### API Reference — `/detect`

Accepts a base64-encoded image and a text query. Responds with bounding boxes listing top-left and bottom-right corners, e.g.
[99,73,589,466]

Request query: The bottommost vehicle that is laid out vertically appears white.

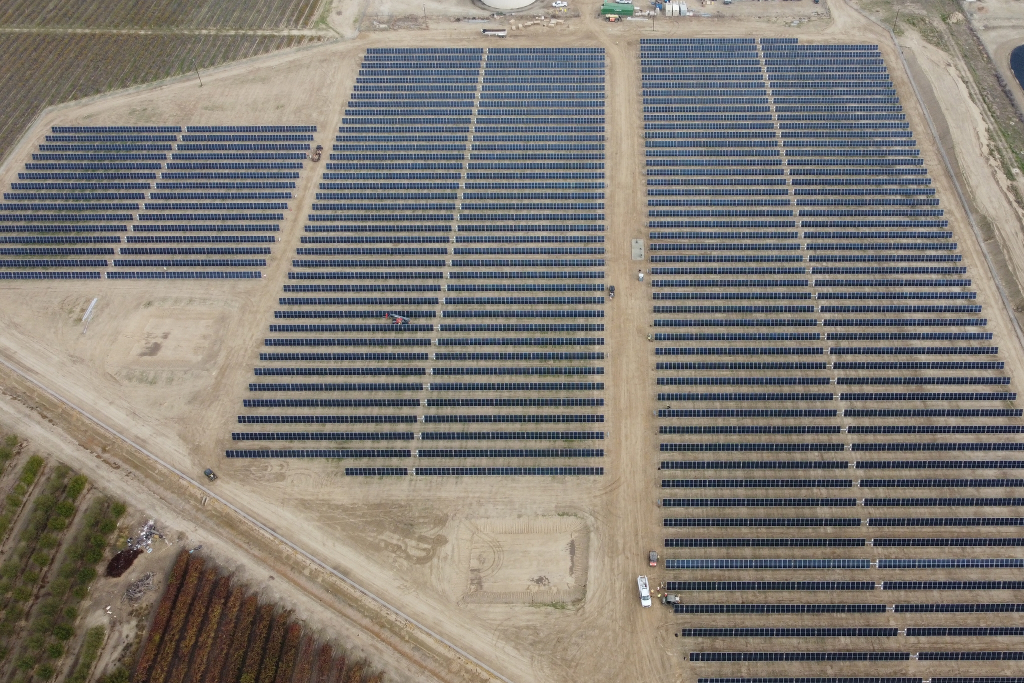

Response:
[637,573,652,606]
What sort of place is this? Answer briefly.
solar farm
